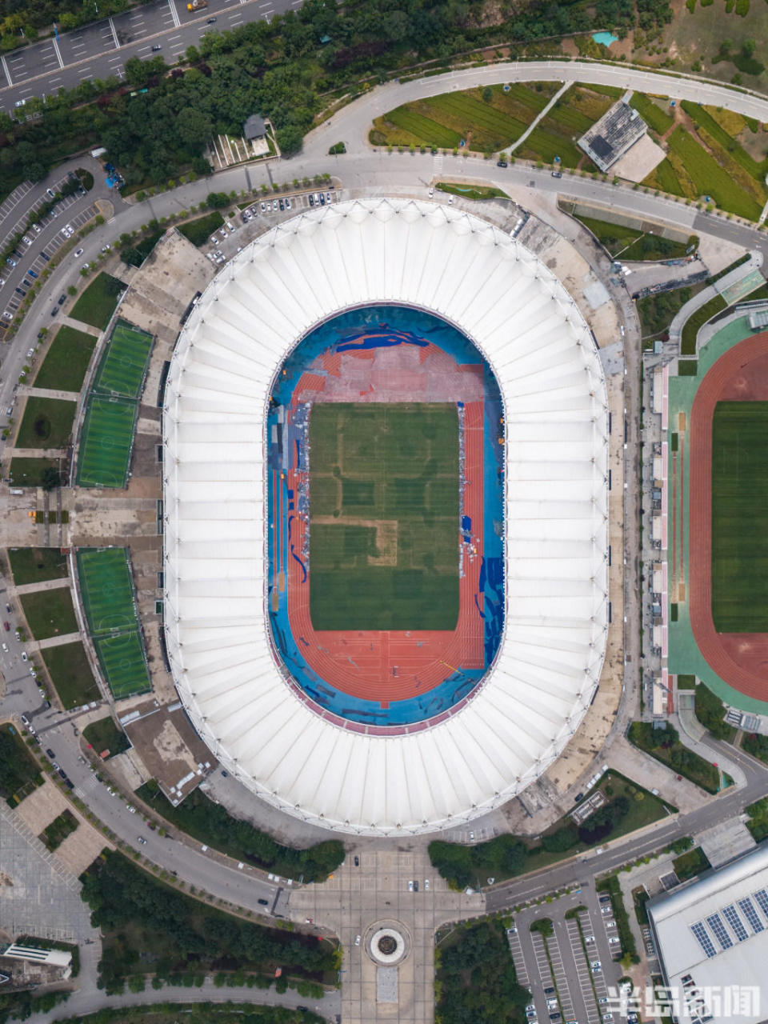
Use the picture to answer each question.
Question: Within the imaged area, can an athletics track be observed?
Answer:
Yes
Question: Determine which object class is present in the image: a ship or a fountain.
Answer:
fountain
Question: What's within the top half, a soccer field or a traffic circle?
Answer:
soccer field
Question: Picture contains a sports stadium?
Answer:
Yes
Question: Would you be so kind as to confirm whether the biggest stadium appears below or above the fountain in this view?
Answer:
above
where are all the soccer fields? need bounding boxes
[74,547,141,639]
[90,630,152,702]
[73,392,139,490]
[712,401,768,633]
[88,315,154,398]
[309,402,470,630]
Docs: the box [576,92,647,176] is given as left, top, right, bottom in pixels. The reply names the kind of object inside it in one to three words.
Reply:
building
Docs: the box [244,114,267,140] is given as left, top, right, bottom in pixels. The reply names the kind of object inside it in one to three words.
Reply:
building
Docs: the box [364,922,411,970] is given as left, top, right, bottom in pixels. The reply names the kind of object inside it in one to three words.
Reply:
fountain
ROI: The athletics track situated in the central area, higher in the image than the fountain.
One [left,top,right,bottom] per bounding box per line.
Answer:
[269,315,504,724]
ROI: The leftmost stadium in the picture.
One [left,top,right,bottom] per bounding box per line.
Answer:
[163,197,610,837]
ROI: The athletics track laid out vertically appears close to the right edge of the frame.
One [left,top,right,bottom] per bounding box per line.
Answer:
[668,318,768,715]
